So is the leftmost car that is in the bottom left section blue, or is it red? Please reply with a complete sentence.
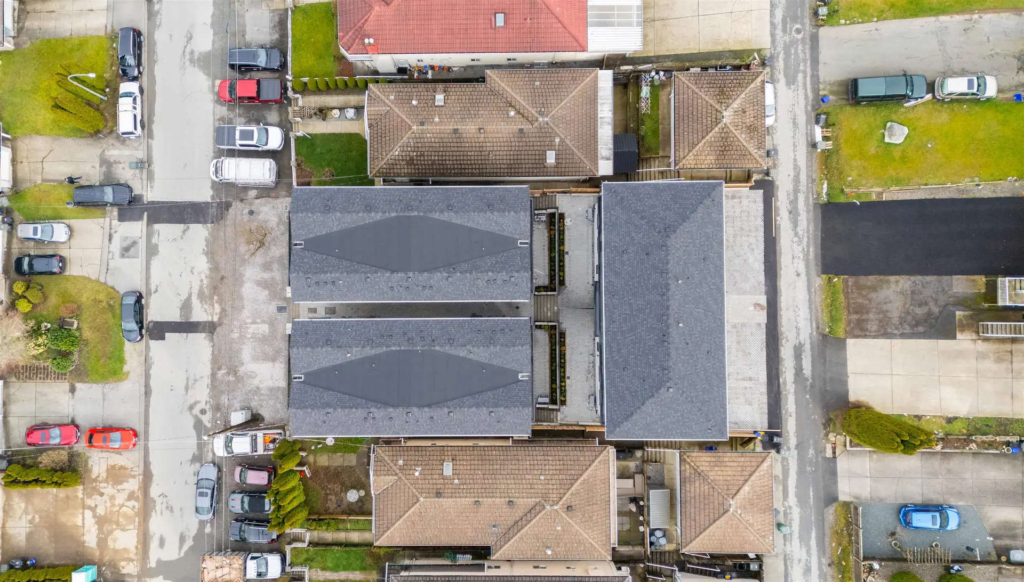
The leftmost car that is in the bottom left section looks red in the image.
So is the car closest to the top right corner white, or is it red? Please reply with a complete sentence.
From above, the car closest to the top right corner appears white.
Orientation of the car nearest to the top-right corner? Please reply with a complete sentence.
What the image shows is the car nearest to the top-right corner lying from side to side.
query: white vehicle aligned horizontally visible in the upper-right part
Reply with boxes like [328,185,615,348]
[931,72,996,101]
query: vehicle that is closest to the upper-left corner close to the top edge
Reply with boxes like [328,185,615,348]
[116,25,145,80]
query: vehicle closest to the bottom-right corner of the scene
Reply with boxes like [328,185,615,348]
[897,503,959,533]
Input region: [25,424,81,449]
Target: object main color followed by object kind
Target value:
red car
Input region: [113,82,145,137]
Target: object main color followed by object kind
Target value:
white car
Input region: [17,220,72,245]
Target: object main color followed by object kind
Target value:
white car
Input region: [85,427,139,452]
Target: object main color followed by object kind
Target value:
red car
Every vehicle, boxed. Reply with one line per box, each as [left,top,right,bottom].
[218,76,283,104]
[215,432,285,459]
[212,157,277,184]
[227,45,285,72]
[230,518,282,544]
[113,82,145,137]
[193,462,221,520]
[931,72,996,101]
[17,220,72,245]
[25,424,81,449]
[897,503,959,533]
[846,70,926,103]
[767,75,781,132]
[116,25,145,80]
[235,464,277,487]
[216,123,284,150]
[85,427,139,452]
[119,290,147,342]
[231,491,278,516]
[71,181,135,207]
[16,253,67,276]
